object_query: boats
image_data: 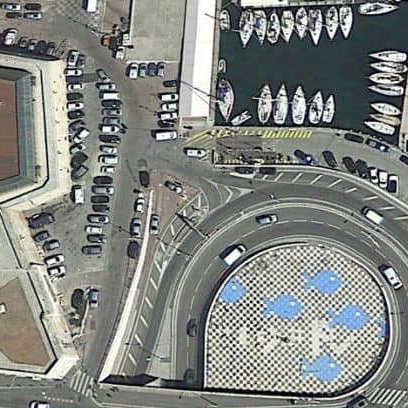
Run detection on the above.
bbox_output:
[309,90,324,124]
[211,79,233,122]
[294,7,309,39]
[270,83,288,124]
[219,60,226,75]
[324,7,339,39]
[252,10,268,46]
[369,73,404,84]
[371,113,401,124]
[254,84,273,124]
[360,2,398,15]
[337,7,352,39]
[268,8,281,44]
[220,7,231,31]
[371,103,403,116]
[235,9,254,47]
[322,95,336,122]
[306,10,322,45]
[279,10,294,42]
[289,86,307,124]
[233,110,252,124]
[368,84,405,96]
[371,62,408,73]
[370,50,407,62]
[364,122,396,133]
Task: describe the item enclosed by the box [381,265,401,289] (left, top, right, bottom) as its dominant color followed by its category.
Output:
white vehicle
